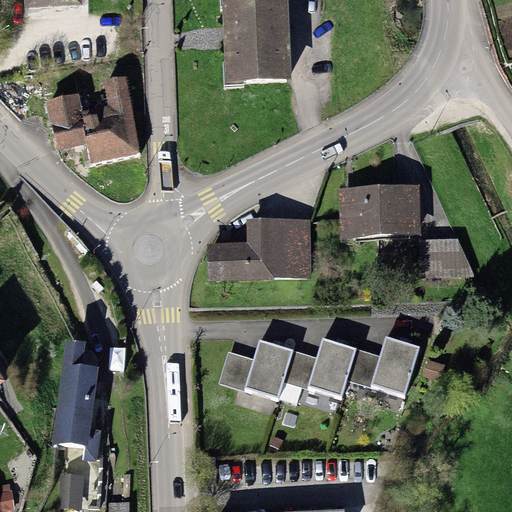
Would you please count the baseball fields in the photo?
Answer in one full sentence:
The picture shows no baseball fields.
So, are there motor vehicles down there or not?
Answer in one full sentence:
Yes, there's a motor vehicle here.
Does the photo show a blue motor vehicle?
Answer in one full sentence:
Yes, the frame does contain a blue motor vehicle.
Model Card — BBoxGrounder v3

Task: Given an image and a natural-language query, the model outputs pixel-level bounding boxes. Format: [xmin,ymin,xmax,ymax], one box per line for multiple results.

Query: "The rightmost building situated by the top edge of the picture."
[219,0,292,91]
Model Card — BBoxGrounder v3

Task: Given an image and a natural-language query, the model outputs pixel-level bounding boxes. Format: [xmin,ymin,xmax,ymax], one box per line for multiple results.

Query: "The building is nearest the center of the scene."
[208,218,311,284]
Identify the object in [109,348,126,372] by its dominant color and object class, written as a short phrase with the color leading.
white gazebo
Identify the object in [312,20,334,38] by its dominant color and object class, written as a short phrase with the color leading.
blue car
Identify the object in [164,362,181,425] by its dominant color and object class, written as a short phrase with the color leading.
white vehicle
